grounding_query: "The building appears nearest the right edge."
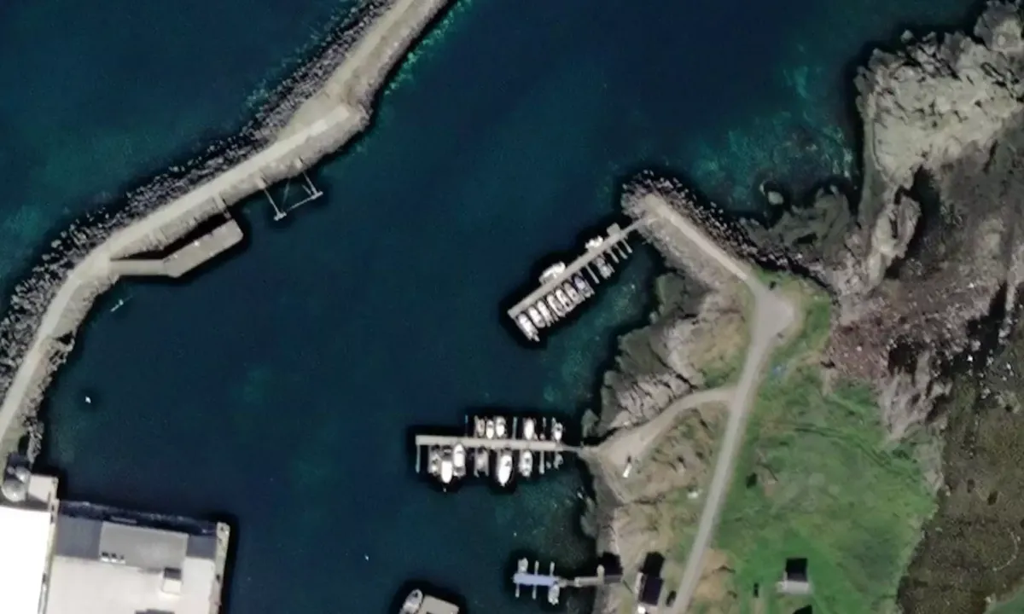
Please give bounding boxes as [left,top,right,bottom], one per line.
[780,573,809,595]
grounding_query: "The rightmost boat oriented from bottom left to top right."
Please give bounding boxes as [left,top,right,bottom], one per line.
[585,237,601,250]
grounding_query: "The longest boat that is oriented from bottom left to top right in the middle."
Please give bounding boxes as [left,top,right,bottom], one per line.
[539,264,565,284]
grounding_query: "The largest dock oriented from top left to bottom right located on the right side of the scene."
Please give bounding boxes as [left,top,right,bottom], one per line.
[622,171,793,299]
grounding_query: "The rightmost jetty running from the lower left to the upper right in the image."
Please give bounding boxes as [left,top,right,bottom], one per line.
[508,212,656,340]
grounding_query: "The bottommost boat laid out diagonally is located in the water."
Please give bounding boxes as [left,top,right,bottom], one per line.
[398,587,421,614]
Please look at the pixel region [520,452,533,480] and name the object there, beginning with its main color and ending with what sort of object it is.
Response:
white boat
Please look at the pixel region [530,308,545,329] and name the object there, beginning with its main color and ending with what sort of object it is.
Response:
white boat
